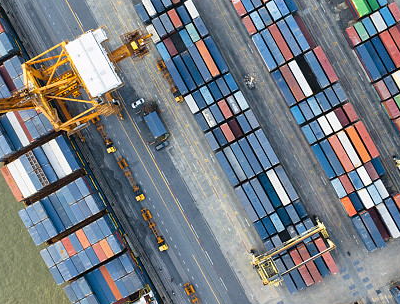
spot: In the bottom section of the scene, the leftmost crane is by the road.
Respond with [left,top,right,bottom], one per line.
[250,212,338,284]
